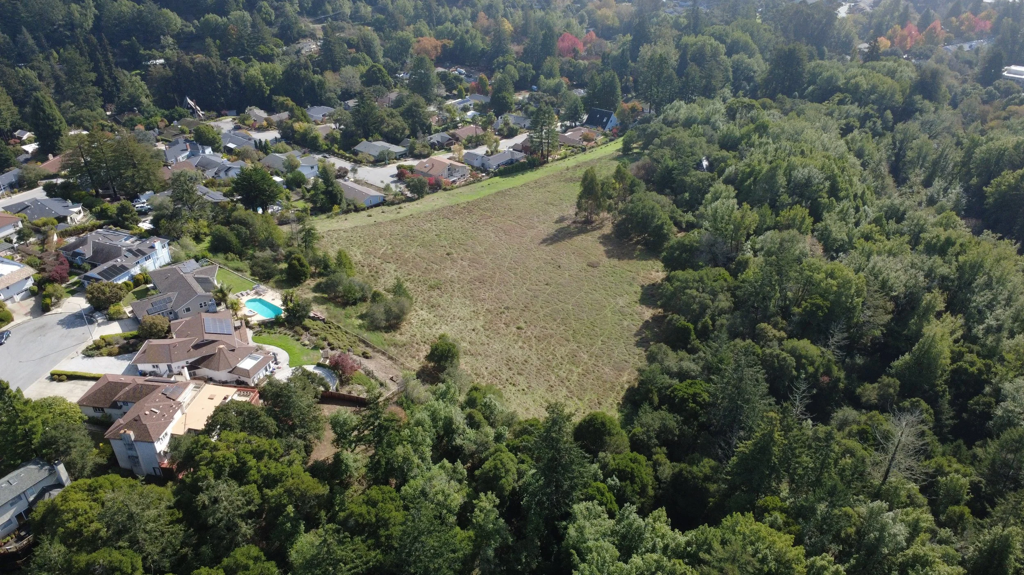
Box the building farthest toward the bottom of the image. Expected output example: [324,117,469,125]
[0,455,73,550]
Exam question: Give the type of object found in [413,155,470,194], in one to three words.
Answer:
house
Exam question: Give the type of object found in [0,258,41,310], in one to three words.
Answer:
house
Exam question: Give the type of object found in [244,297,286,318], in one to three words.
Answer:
swimming pool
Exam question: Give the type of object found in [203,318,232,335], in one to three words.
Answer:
solar panel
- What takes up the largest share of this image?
trees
